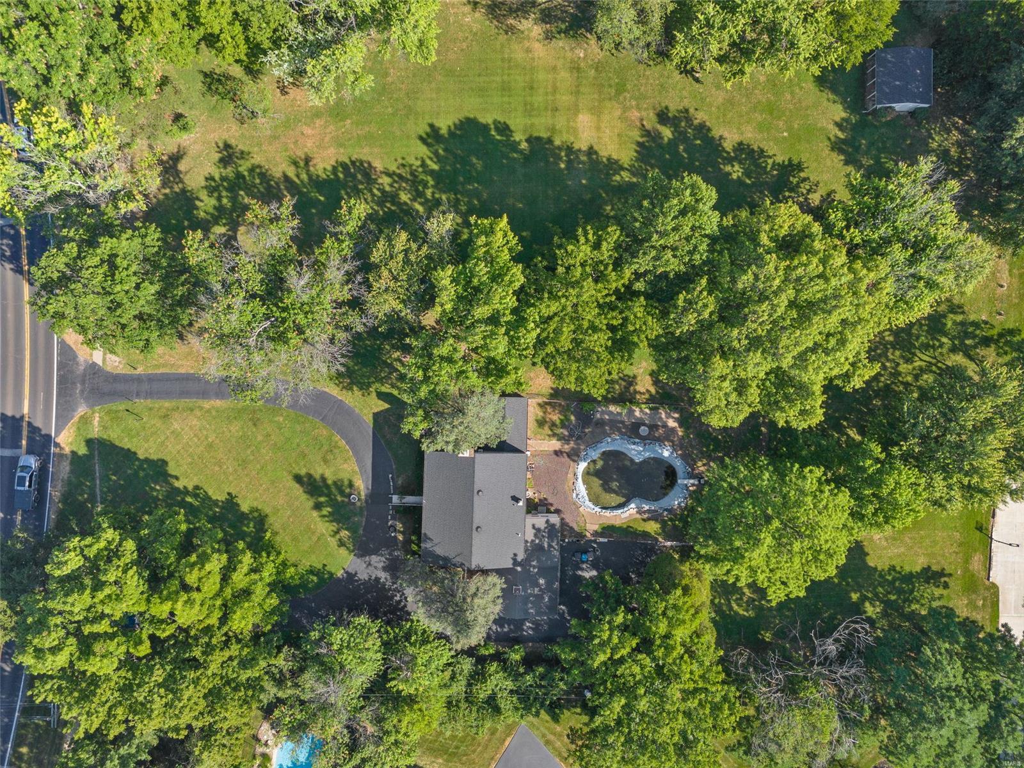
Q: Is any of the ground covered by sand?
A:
No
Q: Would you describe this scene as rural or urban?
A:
rural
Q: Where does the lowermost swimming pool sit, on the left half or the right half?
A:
left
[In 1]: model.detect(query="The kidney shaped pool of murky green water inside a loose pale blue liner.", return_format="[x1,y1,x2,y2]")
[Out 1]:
[573,434,691,516]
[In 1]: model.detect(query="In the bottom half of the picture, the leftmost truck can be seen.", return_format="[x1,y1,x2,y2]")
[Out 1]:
[13,456,42,511]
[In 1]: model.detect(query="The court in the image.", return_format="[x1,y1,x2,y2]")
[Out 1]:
[992,494,1024,667]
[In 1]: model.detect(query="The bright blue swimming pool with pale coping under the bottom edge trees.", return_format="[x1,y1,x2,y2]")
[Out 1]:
[271,729,329,768]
